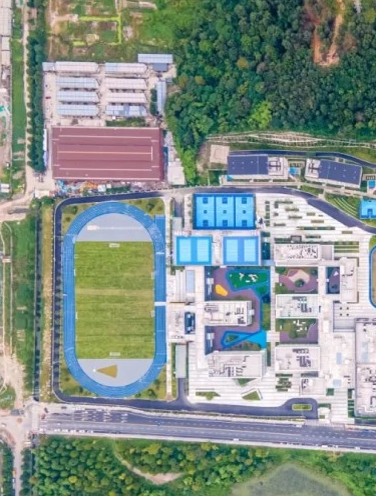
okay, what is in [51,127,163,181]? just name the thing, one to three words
building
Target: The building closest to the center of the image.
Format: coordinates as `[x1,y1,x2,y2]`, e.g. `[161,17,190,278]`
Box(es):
[174,268,195,302]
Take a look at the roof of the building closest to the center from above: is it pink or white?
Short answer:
white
